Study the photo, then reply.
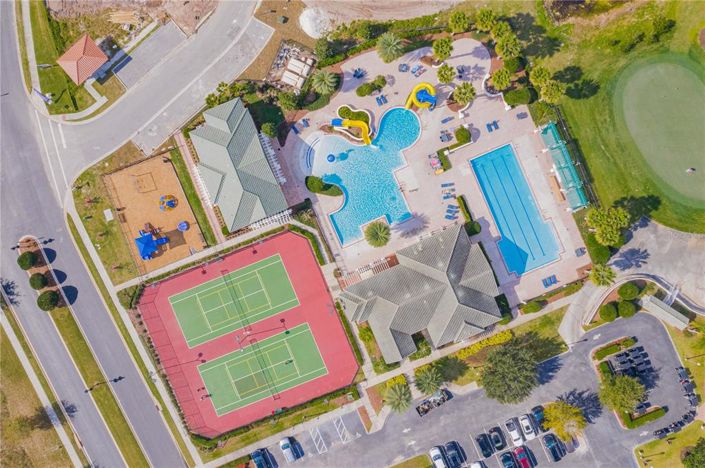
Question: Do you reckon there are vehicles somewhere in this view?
Yes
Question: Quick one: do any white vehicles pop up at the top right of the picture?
No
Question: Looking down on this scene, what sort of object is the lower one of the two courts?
tennis court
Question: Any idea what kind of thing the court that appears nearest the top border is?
tennis court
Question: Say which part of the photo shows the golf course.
top right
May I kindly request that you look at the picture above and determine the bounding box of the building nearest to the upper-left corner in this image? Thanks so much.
[56,32,114,87]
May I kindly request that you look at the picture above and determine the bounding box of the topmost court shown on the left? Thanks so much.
[139,231,335,368]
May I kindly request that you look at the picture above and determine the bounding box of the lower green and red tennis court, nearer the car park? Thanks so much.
[167,301,360,437]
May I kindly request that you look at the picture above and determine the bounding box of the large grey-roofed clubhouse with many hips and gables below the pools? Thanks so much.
[339,224,502,363]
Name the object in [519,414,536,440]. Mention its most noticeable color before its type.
white car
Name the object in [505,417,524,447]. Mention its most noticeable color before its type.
white vehicle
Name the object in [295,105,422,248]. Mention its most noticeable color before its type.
blue swimming pool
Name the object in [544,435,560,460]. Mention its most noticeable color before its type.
blue car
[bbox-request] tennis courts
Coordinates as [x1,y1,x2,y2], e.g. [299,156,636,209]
[139,231,335,368]
[167,301,360,437]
